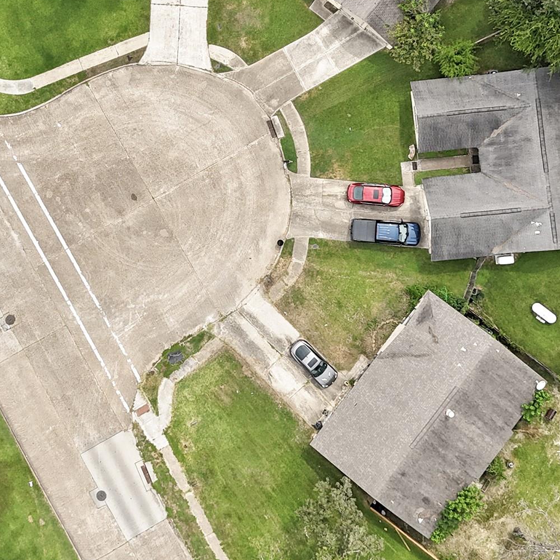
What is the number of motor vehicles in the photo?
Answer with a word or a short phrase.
3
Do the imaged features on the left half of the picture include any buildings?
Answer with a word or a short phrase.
No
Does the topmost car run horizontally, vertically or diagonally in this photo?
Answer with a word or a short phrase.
horizontally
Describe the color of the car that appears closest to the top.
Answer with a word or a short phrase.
red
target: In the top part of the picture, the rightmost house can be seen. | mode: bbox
[409,67,560,261]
